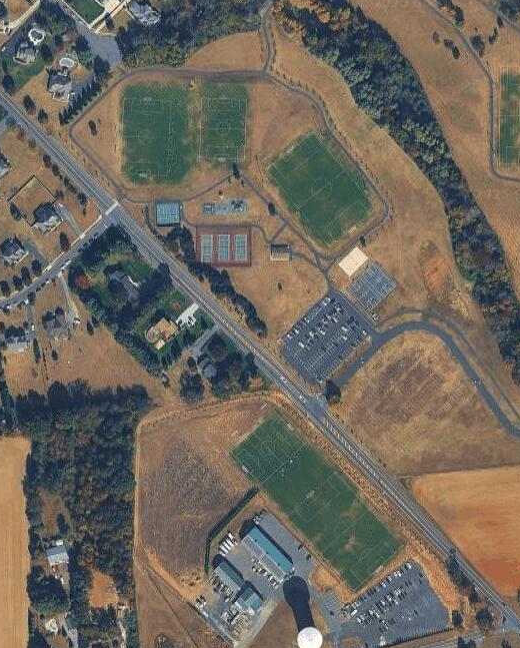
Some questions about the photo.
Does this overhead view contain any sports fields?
Yes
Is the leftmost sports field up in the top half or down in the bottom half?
top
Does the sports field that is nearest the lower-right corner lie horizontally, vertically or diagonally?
diagonally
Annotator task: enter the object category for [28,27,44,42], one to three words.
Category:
swimming pool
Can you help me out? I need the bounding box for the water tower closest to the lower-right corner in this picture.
[297,628,324,648]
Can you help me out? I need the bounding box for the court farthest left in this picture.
[155,201,180,226]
